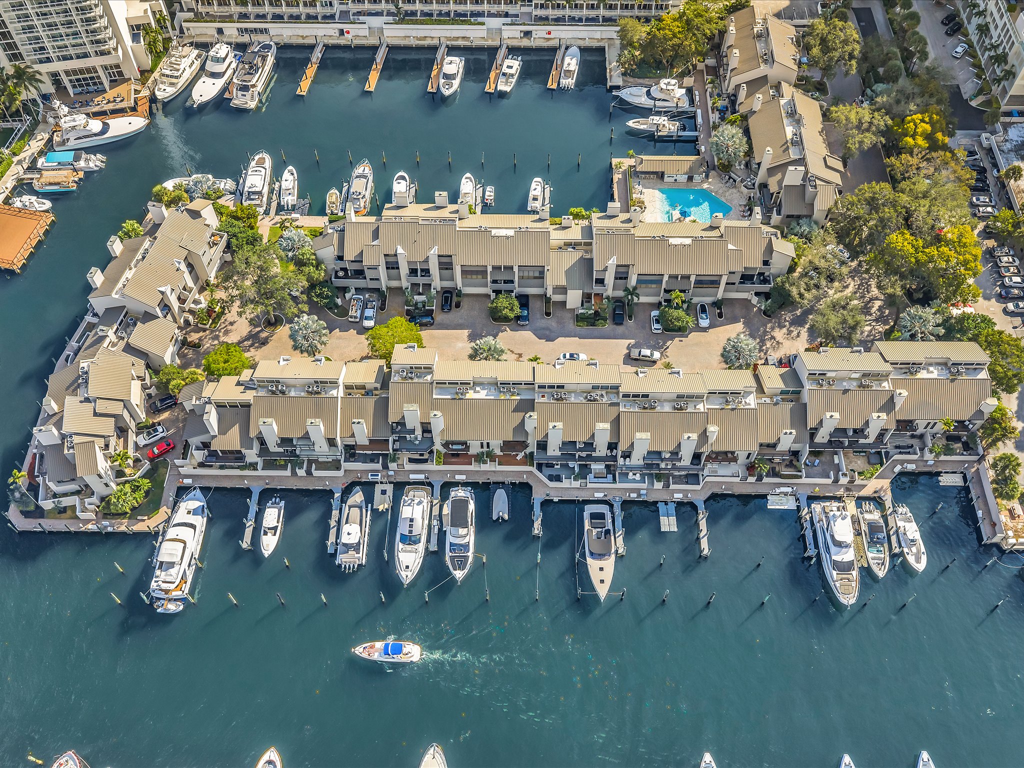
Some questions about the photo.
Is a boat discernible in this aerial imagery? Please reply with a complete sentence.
Yes, this view includes a boat.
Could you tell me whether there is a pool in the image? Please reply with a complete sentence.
Yes, there's a pool here.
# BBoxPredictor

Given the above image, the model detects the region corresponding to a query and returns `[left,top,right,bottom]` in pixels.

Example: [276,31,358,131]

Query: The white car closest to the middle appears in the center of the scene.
[561,351,586,363]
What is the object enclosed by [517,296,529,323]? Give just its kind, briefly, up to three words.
vehicle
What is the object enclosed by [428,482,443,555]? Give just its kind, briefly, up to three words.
pier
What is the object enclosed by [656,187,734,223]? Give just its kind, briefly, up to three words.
swimming pool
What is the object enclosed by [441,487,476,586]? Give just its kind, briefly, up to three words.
boat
